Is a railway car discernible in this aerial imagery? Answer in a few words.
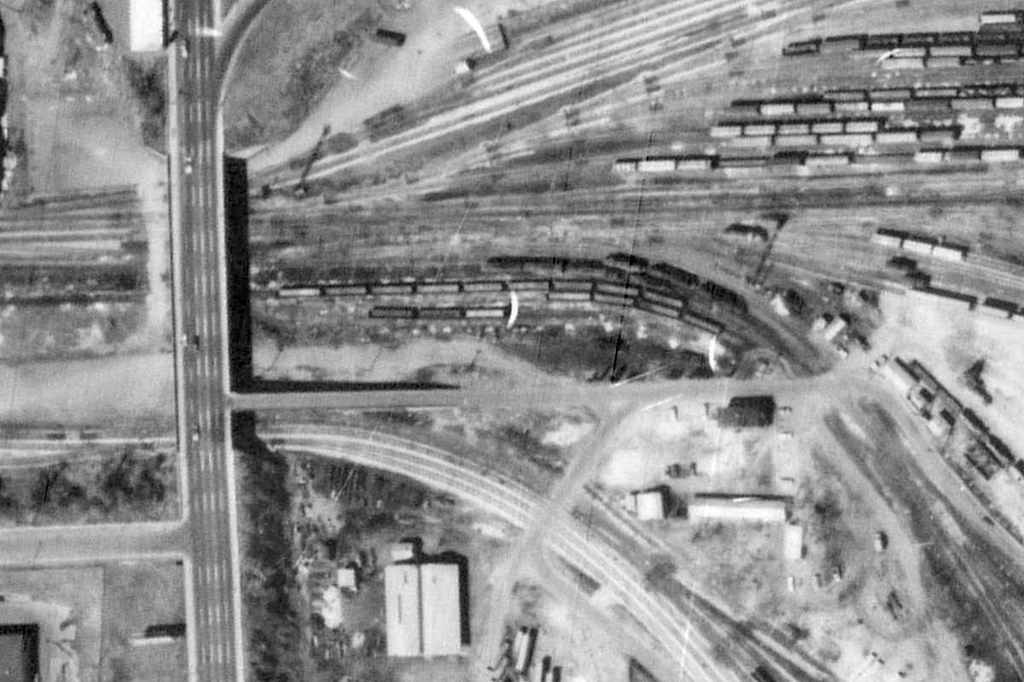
Yes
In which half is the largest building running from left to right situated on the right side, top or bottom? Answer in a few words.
bottom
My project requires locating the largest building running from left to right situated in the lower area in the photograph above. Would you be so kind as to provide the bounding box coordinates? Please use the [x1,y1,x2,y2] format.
[687,500,786,522]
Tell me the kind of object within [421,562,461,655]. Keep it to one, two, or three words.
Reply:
building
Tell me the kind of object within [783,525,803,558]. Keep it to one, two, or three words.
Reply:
shed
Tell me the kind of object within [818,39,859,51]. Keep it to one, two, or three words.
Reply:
rail car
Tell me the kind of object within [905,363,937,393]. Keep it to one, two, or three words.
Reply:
rail car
